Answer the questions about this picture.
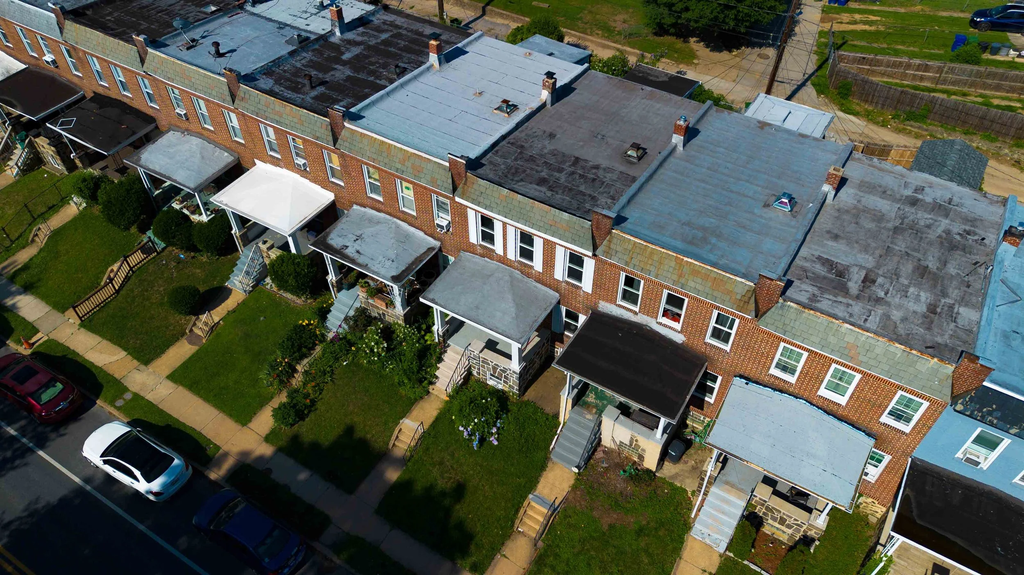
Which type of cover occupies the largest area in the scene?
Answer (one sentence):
The largest share of the image is taken up by buildings.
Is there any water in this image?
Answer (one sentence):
No, water can't be seen anywhere here.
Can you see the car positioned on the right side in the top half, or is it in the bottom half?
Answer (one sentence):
The car positioned on the right side is in the top half of the image.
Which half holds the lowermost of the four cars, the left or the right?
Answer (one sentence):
You can find the lowermost of the four cars on the left side of the picture.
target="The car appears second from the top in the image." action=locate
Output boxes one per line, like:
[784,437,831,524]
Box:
[0,358,85,430]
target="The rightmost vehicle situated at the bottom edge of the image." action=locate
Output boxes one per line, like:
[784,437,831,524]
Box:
[195,490,310,575]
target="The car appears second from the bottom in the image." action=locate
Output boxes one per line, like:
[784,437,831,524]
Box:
[87,423,192,506]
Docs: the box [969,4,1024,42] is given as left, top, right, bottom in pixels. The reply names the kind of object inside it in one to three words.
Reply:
car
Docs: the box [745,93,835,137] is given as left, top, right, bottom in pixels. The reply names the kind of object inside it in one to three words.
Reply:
building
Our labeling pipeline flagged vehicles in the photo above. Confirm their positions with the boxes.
[0,358,85,430]
[969,4,1024,42]
[195,490,310,575]
[87,423,192,506]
